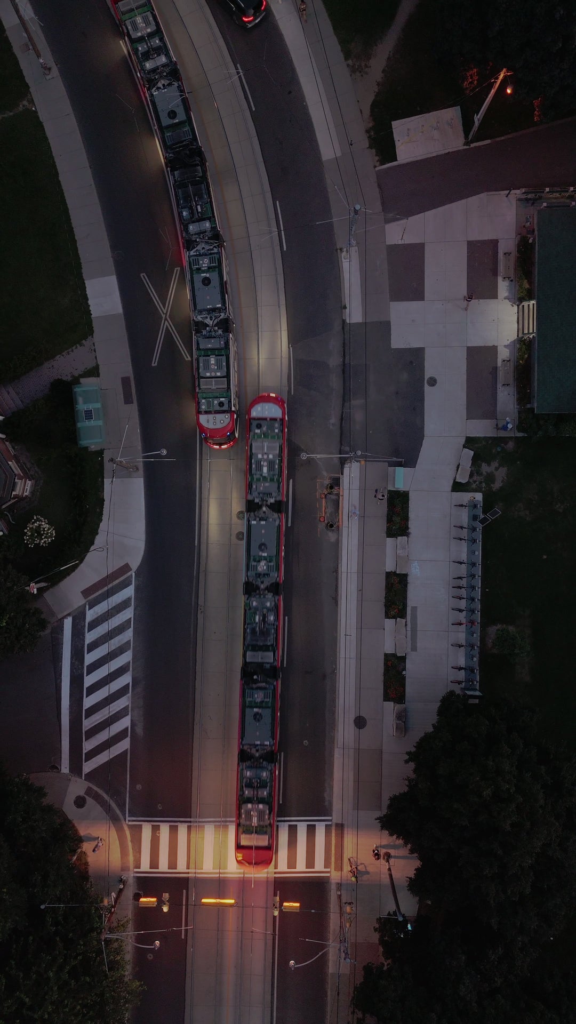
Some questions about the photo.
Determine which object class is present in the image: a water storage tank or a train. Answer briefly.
train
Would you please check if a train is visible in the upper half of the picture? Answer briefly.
Yes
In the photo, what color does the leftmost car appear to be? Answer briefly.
black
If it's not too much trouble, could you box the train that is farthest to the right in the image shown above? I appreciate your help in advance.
[236,396,291,903]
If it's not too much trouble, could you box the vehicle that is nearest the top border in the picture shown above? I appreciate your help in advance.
[227,0,267,29]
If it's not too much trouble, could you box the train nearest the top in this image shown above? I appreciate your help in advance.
[111,0,241,447]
